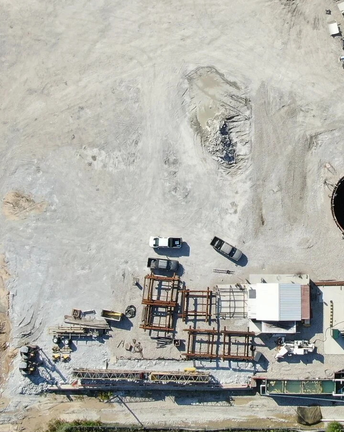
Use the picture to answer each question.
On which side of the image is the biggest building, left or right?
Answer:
right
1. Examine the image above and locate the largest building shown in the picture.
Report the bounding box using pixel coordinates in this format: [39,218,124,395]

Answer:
[247,284,310,333]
